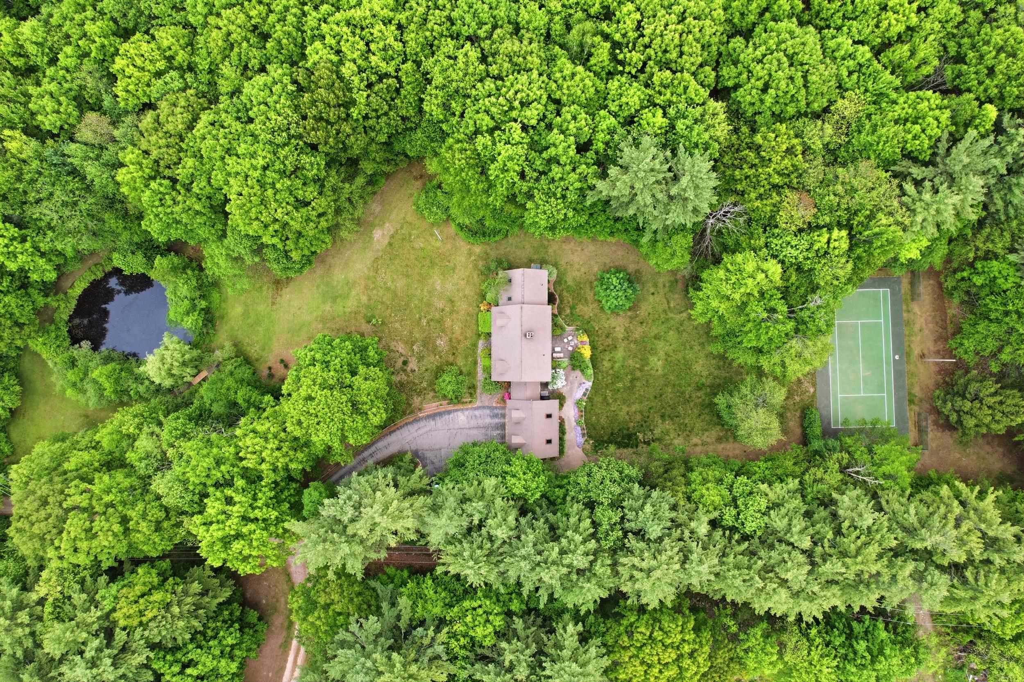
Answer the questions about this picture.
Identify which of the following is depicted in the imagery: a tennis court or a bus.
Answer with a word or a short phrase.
tennis court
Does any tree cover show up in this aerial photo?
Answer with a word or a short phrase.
Yes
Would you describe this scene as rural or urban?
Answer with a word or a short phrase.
rural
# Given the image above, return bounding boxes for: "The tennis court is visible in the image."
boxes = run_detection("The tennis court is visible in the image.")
[814,277,913,445]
